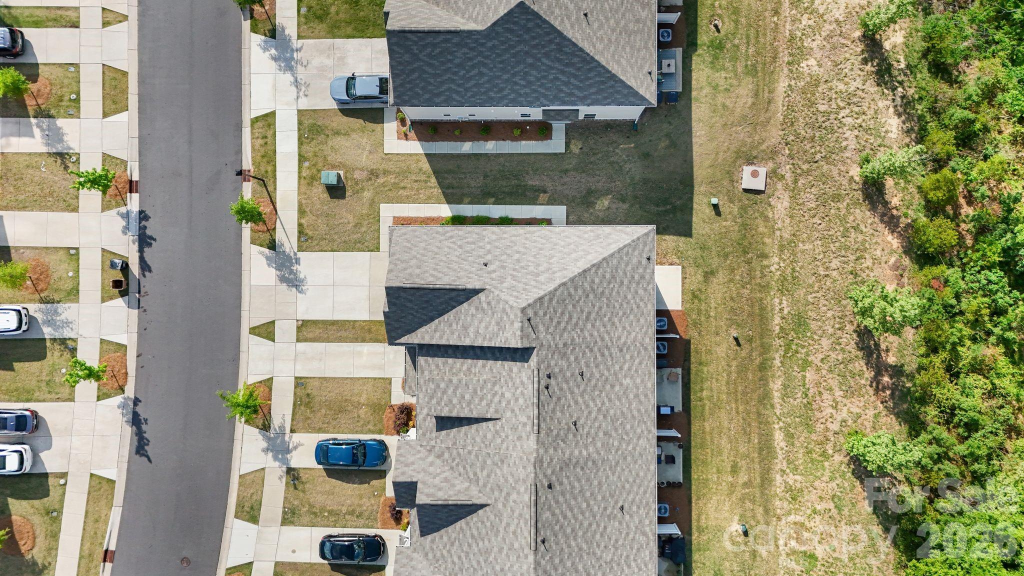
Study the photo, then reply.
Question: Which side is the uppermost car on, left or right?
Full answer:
It is on the left.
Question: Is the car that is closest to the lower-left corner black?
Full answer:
No, the color of the car that is closest to the lower-left corner is white.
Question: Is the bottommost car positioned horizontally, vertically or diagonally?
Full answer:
Seen from above, the bottommost car lies horizontally.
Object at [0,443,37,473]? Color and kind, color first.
white car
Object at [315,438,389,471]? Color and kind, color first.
blue car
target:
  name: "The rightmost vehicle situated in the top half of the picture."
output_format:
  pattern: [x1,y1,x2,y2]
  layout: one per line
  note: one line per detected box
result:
[329,71,386,104]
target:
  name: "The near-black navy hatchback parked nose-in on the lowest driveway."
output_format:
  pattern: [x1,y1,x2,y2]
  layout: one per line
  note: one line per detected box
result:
[319,531,387,566]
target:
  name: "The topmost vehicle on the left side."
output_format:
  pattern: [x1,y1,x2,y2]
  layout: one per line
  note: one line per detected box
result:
[0,28,28,59]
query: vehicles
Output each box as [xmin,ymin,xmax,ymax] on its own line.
[329,71,386,104]
[315,438,389,471]
[0,28,28,59]
[0,406,43,434]
[319,531,387,566]
[0,443,37,473]
[0,306,34,334]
